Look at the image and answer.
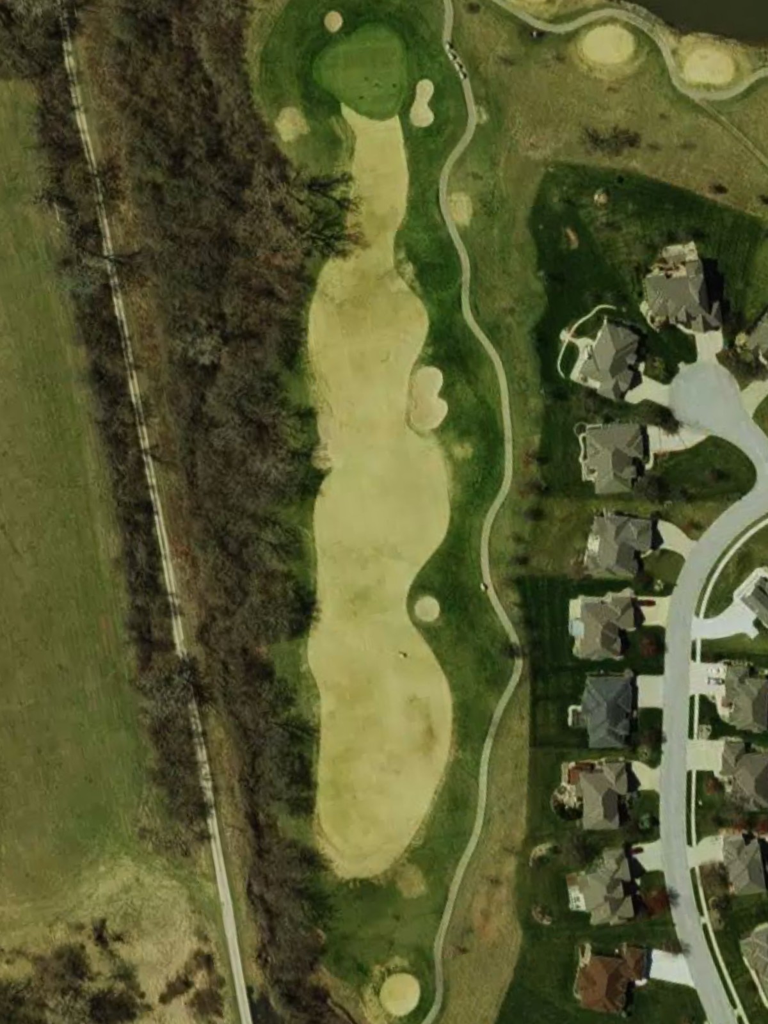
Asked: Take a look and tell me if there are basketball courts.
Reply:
No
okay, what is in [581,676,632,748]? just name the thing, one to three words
house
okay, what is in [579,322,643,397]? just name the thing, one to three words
house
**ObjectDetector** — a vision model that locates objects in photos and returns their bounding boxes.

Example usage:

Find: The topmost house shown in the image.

[645,240,723,333]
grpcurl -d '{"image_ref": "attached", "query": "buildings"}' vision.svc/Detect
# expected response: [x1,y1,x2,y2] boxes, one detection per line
[569,597,635,659]
[724,665,768,730]
[737,930,768,1011]
[582,763,629,830]
[580,944,646,1012]
[579,322,643,397]
[722,742,768,813]
[566,845,635,924]
[584,424,643,494]
[645,240,723,333]
[737,573,768,632]
[584,510,652,575]
[581,676,632,748]
[722,832,768,897]
[746,311,768,361]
